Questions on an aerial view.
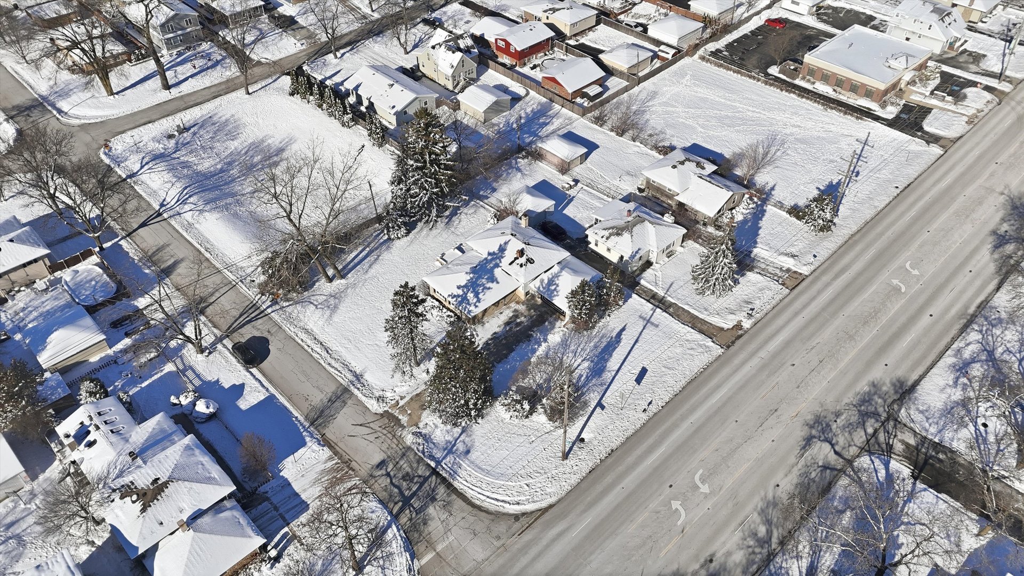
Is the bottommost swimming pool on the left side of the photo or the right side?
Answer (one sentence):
You can find the bottommost swimming pool on the left side of the picture.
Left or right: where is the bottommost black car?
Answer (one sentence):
You can find the bottommost black car on the left side of the picture.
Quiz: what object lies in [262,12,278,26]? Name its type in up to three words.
car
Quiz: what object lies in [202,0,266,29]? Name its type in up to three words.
house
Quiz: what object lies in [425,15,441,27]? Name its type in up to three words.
vehicle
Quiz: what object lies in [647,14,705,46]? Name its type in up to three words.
building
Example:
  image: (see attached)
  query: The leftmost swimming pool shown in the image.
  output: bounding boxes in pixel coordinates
[56,266,122,309]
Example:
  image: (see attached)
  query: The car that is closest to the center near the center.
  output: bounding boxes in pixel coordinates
[538,219,568,243]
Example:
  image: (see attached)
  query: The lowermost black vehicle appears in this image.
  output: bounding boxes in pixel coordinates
[230,342,260,369]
